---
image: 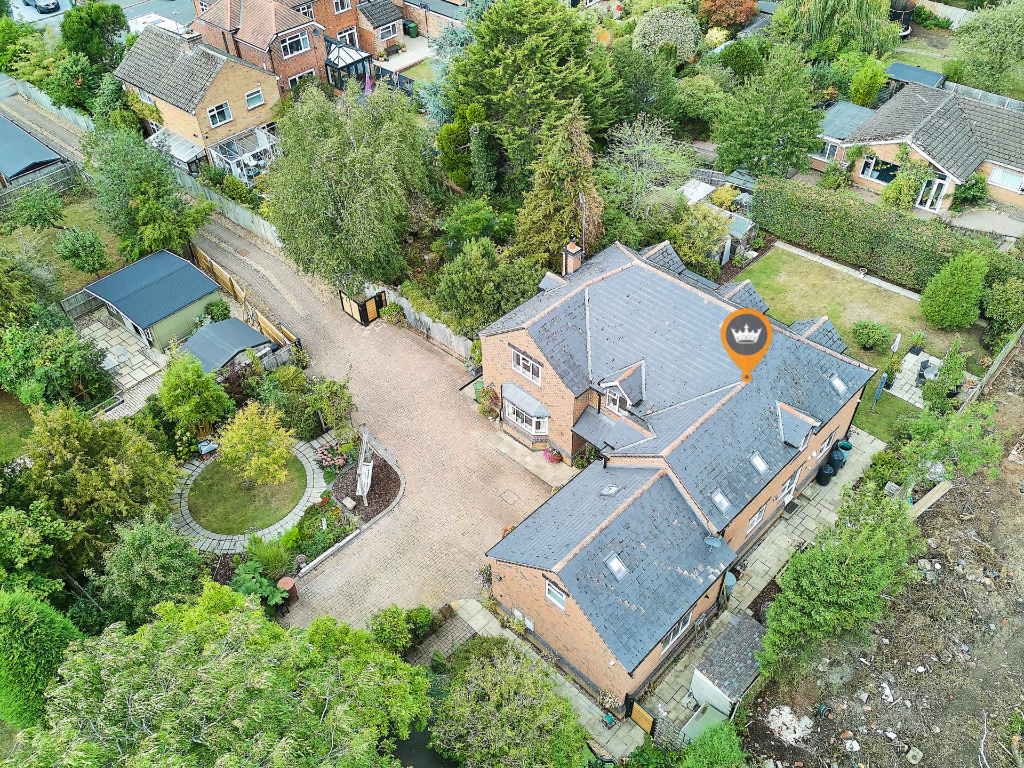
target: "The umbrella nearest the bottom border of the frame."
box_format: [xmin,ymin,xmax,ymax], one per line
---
[888,326,904,355]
